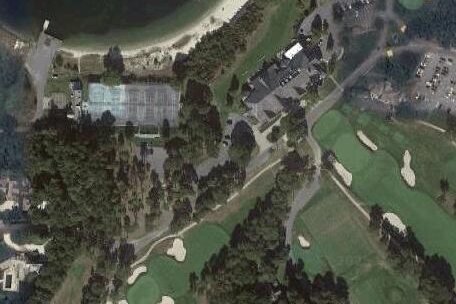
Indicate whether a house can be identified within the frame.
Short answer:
Yes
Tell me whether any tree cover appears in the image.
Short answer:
Yes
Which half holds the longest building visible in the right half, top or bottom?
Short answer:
top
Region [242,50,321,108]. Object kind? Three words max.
building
